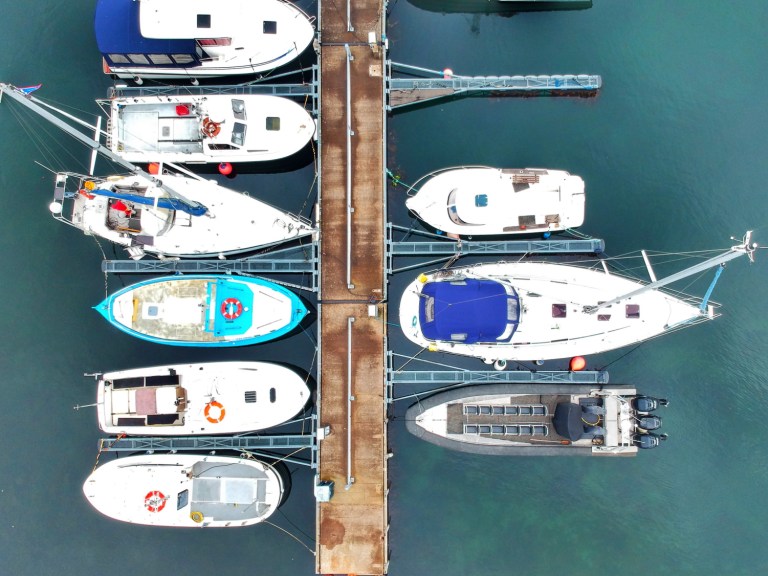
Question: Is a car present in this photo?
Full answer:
No, I can see no car in this picture.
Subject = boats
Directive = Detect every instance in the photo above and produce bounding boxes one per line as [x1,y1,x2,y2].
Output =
[92,274,312,347]
[79,452,285,527]
[404,382,662,456]
[405,166,586,236]
[97,94,316,164]
[0,80,319,260]
[400,230,768,361]
[74,361,310,435]
[95,0,320,82]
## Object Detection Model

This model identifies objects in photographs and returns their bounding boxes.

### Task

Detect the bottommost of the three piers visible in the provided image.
[317,302,386,572]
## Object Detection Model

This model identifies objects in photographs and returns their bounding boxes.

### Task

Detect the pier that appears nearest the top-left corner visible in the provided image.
[320,0,386,44]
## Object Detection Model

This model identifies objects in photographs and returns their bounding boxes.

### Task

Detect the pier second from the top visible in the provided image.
[318,44,386,300]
